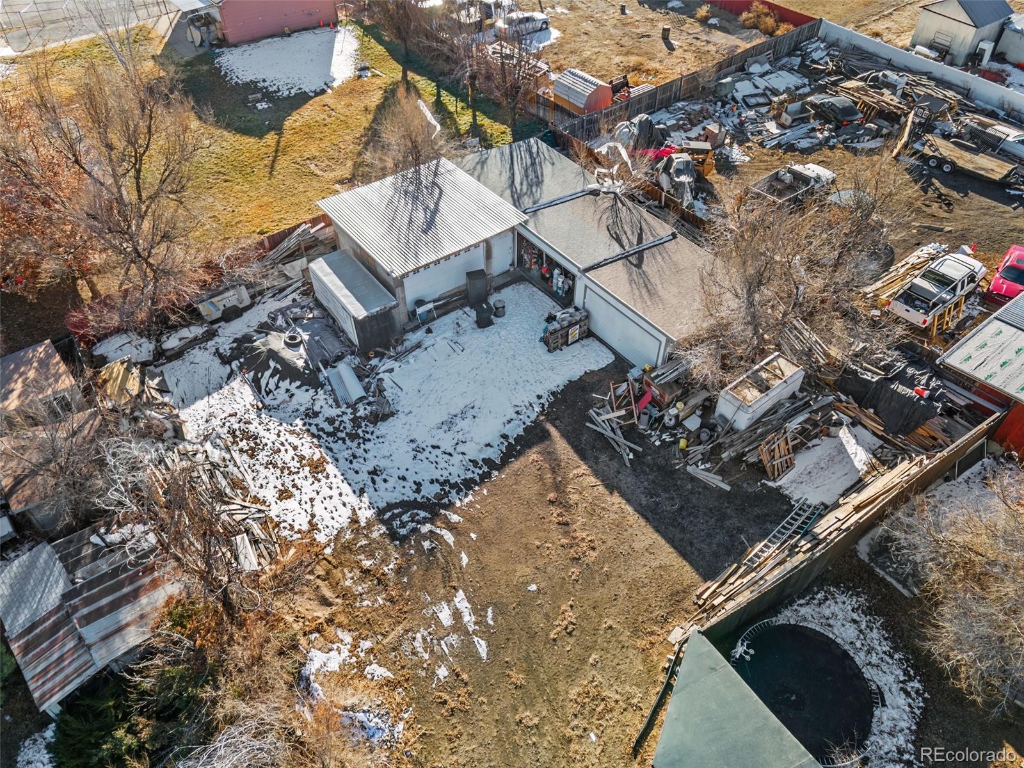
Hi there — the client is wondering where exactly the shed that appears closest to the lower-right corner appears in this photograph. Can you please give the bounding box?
[652,628,823,768]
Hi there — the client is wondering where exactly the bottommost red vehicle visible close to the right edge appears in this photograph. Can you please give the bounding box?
[981,244,1024,306]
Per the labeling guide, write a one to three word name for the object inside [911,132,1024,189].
trailer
